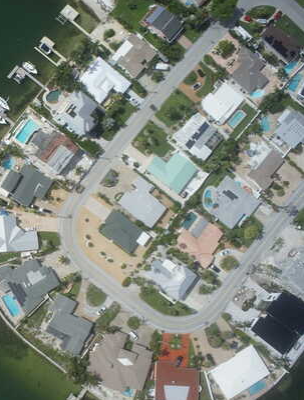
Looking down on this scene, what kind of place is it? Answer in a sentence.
The area seen from above is a residential area.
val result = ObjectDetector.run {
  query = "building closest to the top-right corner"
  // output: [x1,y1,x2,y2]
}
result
[259,25,304,66]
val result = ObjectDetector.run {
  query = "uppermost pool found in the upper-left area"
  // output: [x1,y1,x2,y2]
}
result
[47,89,61,104]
